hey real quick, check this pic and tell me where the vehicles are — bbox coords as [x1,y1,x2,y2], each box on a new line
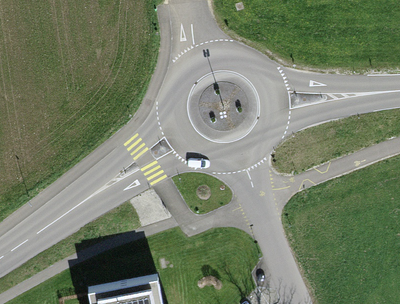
[188,160,210,170]
[257,272,266,284]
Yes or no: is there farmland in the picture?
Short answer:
Yes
